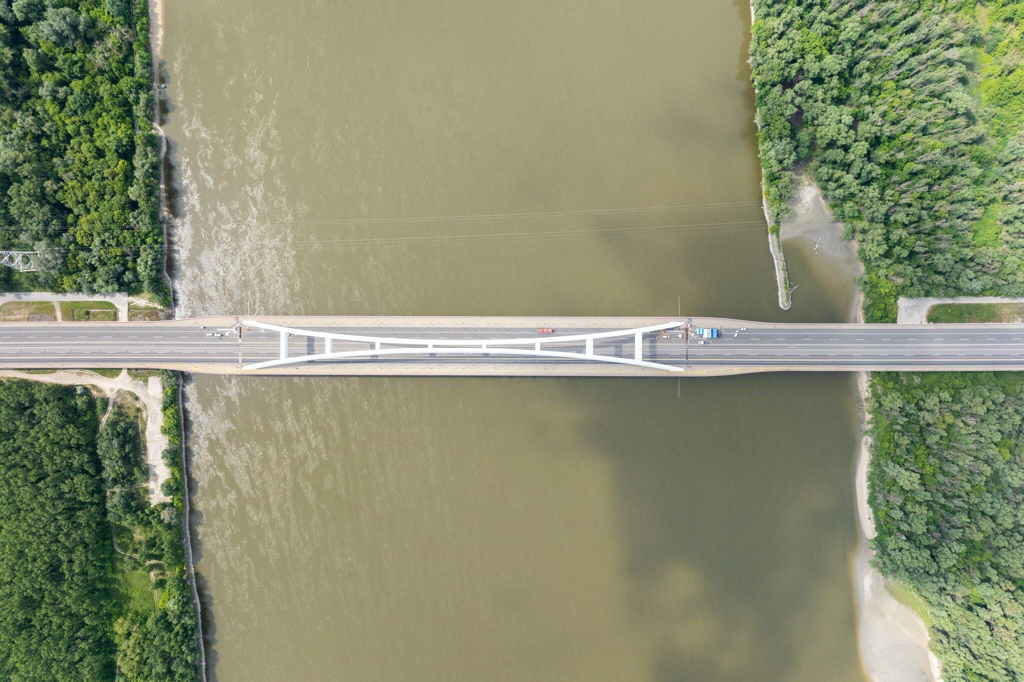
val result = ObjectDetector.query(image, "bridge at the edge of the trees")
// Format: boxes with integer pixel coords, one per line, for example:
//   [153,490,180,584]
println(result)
[0,297,1024,395]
